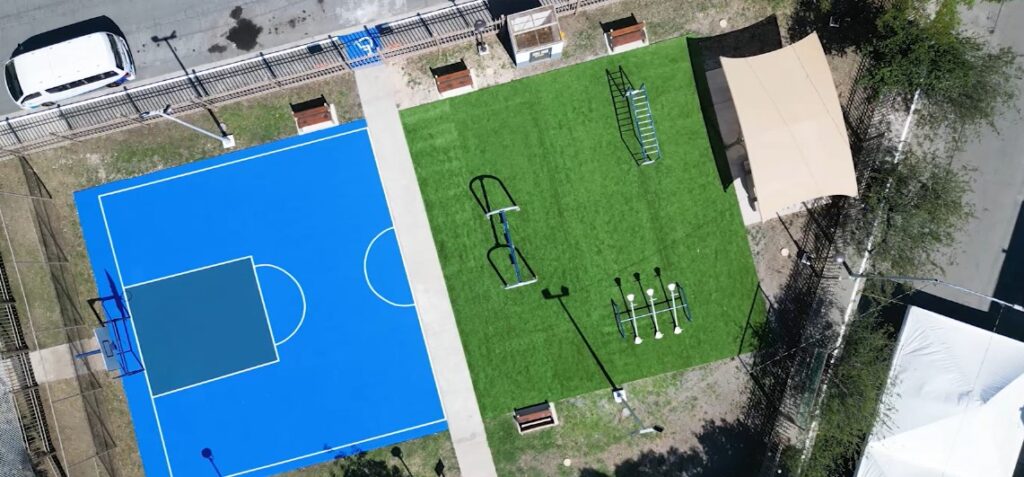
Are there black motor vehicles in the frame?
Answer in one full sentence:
No, there appears to be no black motor vehicle in this shot.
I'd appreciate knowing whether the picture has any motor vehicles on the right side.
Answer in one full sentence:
No, no motor vehicle is visible on the right side.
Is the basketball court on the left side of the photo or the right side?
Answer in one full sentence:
You can find the basketball court on the left side of the picture.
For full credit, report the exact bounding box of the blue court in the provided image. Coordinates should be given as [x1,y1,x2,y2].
[75,121,450,477]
